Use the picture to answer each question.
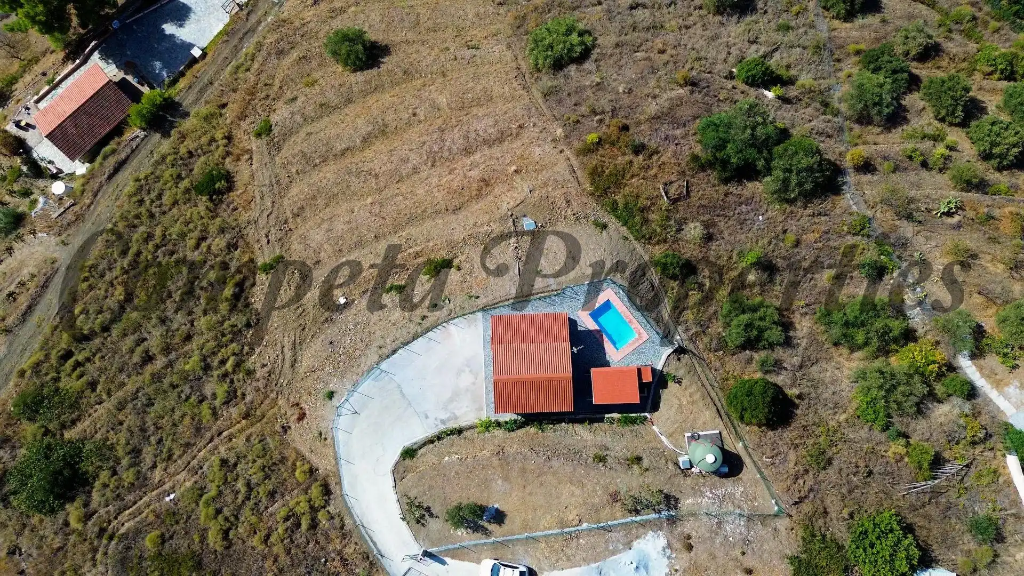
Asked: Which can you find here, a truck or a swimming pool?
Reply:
swimming pool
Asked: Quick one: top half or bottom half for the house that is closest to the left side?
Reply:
top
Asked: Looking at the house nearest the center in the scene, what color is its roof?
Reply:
red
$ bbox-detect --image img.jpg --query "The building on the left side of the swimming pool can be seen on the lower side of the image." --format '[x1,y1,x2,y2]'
[491,313,586,414]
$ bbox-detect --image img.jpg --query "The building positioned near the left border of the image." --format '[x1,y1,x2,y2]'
[33,62,135,162]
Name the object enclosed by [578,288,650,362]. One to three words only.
swimming pool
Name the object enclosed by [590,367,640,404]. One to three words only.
shed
